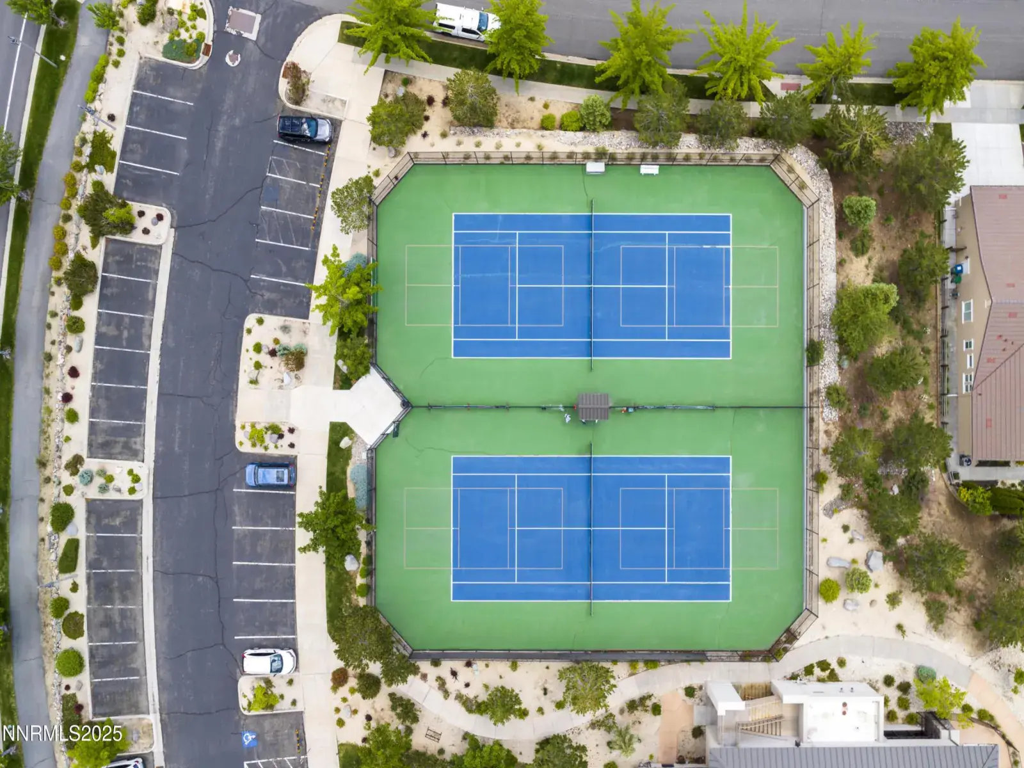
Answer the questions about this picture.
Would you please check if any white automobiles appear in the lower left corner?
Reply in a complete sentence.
Yes, a white automobile is visible in the lower left corner.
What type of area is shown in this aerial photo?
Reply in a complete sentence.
The area seen from above is a sports ground.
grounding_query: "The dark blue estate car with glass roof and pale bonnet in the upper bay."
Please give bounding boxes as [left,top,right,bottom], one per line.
[278,112,335,146]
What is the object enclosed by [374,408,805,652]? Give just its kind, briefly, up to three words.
tennis court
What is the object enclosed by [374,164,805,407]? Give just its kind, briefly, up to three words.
tennis court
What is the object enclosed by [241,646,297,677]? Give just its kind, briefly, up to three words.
car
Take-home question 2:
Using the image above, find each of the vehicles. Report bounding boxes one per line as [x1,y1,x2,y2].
[435,1,500,47]
[241,646,297,677]
[246,460,299,489]
[93,750,150,768]
[278,112,335,146]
